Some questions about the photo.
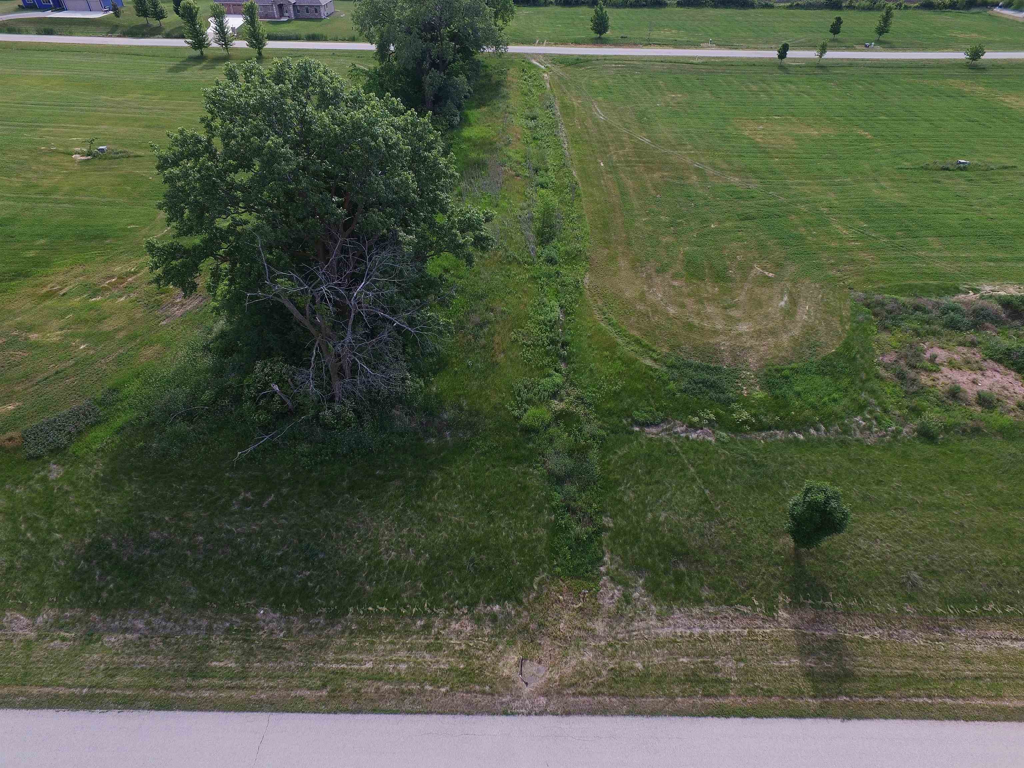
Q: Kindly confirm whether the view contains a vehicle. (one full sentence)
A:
No, I find no vehicle anywhere in the image.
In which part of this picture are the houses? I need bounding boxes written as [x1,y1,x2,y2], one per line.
[215,0,331,20]
[30,0,125,11]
